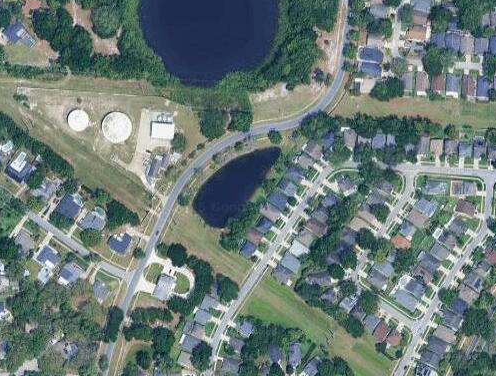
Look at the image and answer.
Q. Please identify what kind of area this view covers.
residential area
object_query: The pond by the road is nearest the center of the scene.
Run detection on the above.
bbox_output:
[193,146,280,227]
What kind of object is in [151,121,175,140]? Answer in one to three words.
building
